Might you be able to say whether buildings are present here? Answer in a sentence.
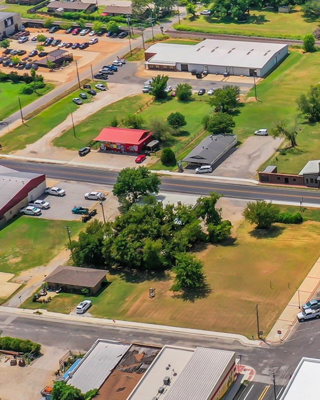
Yes, the image includes a building.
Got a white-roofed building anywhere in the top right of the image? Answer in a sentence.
Yes, I can see a white-roofed building in the top right of the image.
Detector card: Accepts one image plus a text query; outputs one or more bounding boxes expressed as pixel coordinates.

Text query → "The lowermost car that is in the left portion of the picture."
[75,294,90,313]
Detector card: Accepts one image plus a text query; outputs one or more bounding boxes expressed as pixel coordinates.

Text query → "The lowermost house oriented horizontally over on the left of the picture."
[43,265,111,298]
